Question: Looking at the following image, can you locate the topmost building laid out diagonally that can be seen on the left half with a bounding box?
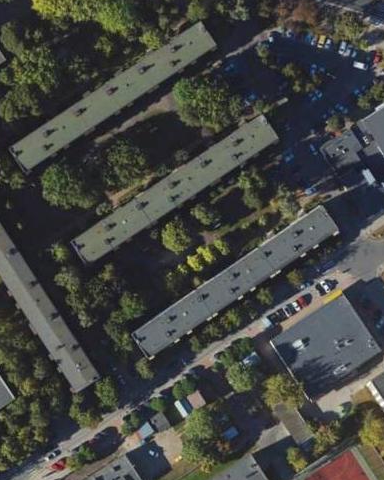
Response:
[8,21,216,172]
